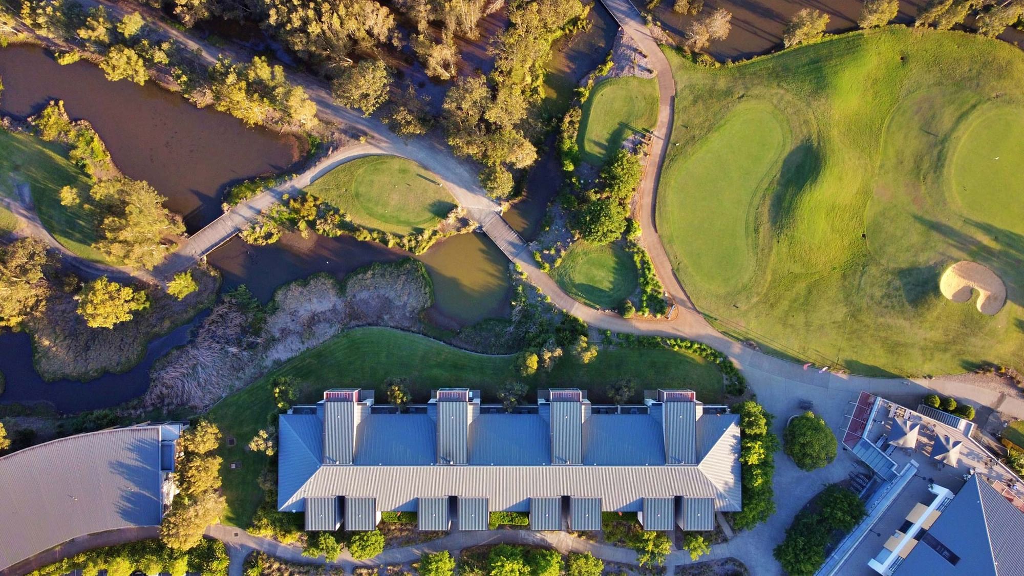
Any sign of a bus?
No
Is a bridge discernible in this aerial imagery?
Yes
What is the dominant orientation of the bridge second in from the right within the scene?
at an angle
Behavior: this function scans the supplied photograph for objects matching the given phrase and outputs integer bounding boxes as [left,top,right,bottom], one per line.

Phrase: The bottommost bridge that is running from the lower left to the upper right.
[183,209,245,260]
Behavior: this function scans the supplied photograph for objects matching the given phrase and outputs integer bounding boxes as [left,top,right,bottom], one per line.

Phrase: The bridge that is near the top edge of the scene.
[599,0,645,28]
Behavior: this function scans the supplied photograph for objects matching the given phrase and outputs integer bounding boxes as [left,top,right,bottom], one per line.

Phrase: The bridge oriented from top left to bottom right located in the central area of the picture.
[479,208,530,264]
